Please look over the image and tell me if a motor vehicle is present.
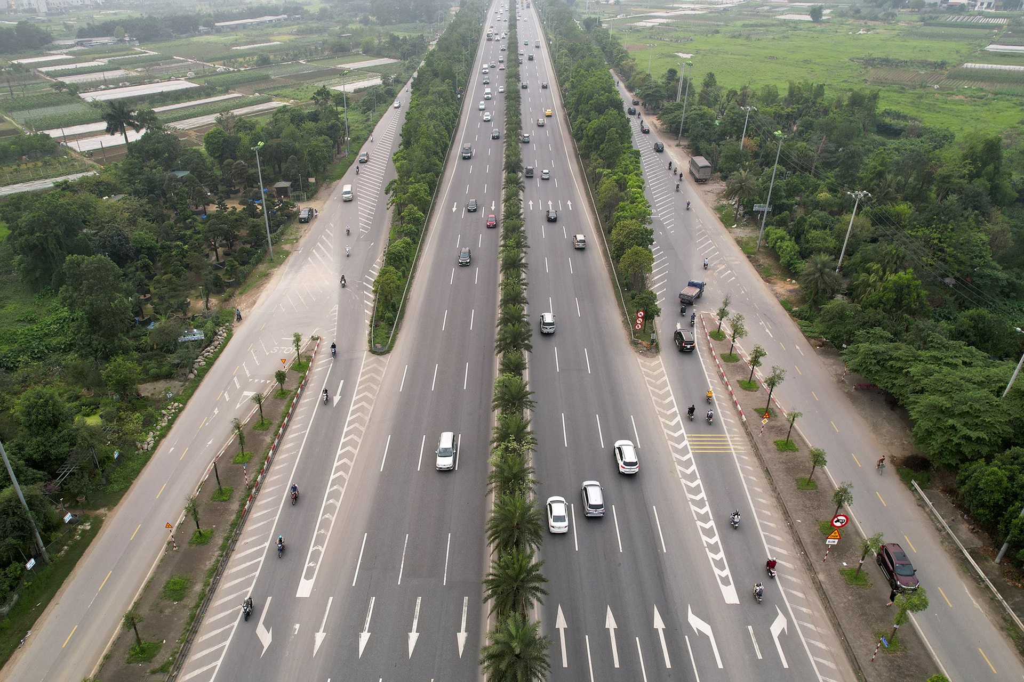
Yes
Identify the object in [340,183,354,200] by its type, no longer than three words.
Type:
vehicle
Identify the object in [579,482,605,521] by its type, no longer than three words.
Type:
car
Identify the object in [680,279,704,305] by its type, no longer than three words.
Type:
truck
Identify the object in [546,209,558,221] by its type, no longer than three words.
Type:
vehicle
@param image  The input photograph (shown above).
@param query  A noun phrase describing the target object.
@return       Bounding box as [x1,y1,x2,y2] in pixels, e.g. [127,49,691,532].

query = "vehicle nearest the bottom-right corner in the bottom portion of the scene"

[873,542,924,593]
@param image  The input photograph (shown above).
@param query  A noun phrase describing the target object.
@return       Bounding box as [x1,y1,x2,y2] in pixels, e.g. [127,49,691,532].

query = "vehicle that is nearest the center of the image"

[538,314,556,334]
